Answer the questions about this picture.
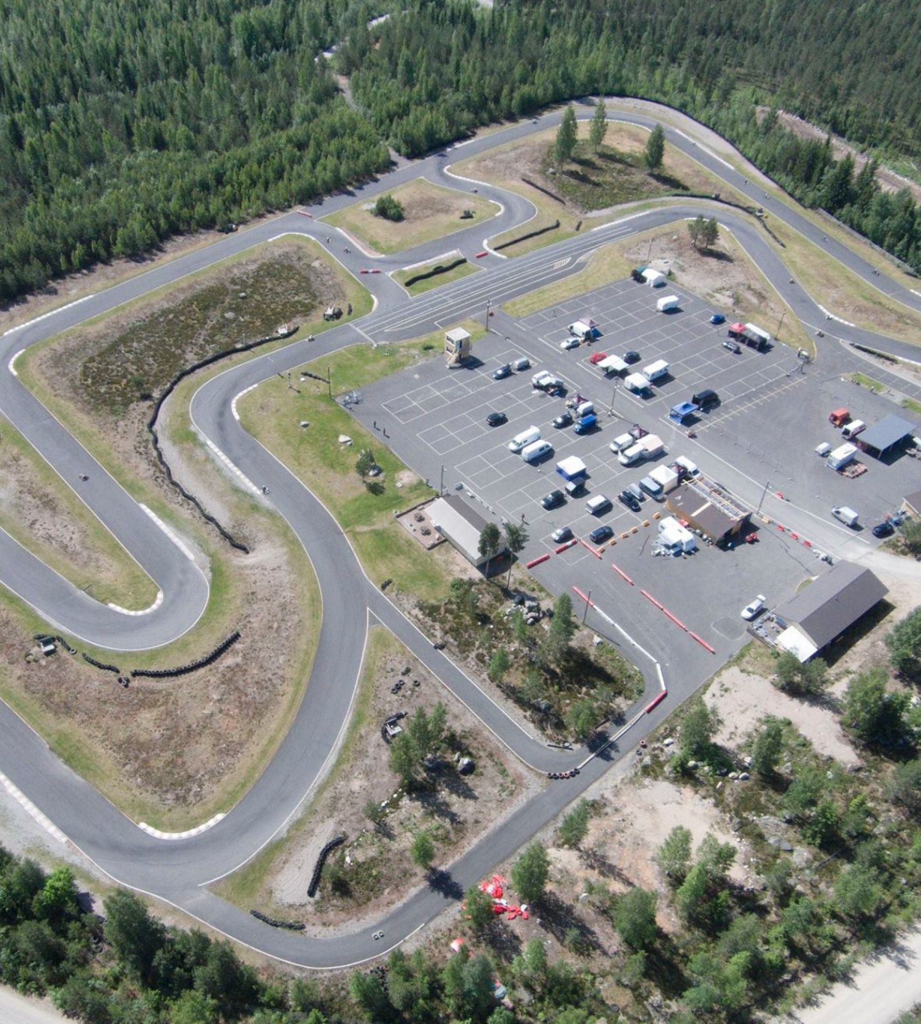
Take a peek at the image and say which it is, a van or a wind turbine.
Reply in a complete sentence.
Visible in the photo is a van.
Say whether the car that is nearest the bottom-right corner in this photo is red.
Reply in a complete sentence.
No, the car that is nearest the bottom-right corner is actually white.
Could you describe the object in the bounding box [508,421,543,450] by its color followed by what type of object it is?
white van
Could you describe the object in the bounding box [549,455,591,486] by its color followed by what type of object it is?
white tent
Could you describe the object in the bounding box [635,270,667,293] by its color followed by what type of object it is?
white tent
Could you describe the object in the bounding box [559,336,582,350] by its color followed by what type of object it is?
white car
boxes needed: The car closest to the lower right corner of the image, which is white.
[737,589,772,622]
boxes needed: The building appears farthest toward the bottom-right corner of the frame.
[769,565,890,662]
